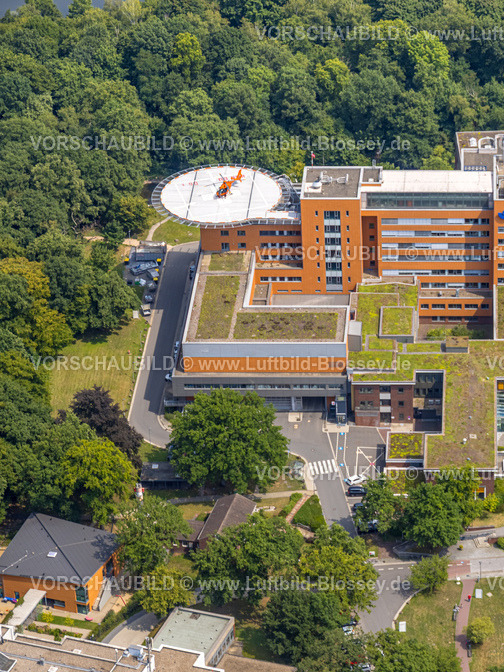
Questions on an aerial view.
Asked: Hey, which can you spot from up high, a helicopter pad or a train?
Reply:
helicopter pad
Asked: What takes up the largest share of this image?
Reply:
trees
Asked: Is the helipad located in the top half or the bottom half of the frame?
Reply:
top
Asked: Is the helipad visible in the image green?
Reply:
No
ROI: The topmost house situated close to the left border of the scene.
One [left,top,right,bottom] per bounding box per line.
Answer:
[0,513,119,610]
